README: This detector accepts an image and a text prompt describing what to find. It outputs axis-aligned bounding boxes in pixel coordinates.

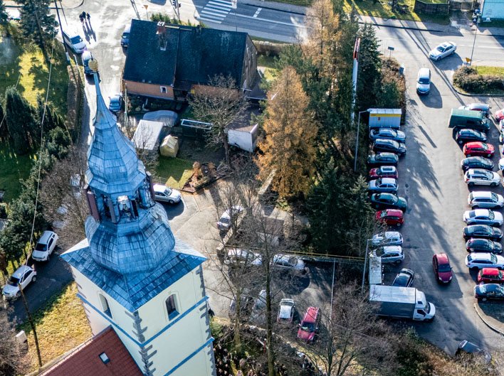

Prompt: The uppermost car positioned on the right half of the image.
[426,41,459,60]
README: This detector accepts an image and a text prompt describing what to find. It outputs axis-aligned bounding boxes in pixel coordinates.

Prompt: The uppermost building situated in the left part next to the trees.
[122,12,267,108]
